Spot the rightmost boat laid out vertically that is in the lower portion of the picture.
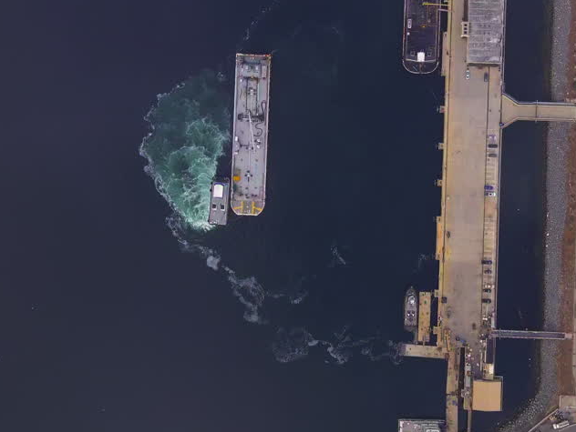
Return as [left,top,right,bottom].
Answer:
[404,285,417,330]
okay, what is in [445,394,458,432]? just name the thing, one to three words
pier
